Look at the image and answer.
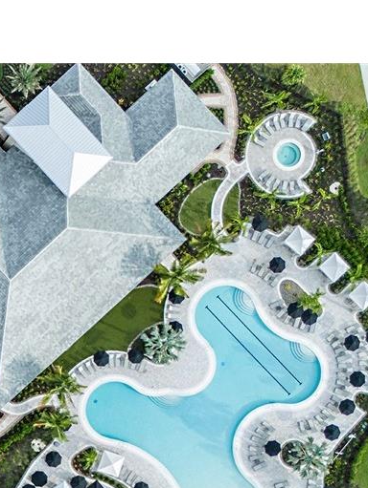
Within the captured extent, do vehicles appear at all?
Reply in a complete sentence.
No, this view has no vehicle in it.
